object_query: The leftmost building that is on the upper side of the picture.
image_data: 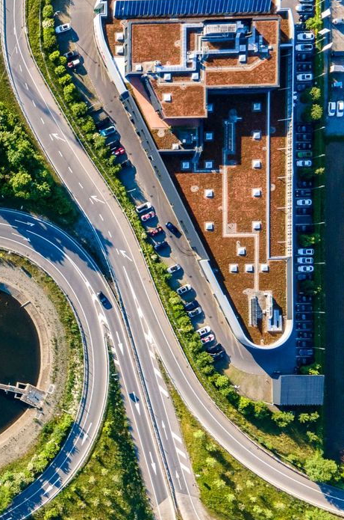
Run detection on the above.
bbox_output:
[91,0,295,351]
